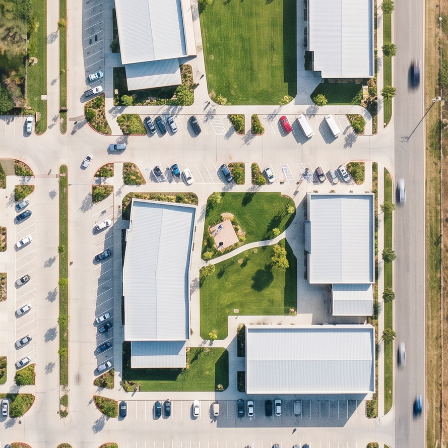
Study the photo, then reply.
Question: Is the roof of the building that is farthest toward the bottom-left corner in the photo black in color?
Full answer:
No, the color of the roof of the building that is farthest toward the bottom-left corner is white.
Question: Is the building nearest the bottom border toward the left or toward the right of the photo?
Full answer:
The building nearest the bottom border sits on the right side.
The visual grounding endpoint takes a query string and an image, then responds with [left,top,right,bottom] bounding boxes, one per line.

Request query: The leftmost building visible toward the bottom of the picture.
[122,196,197,369]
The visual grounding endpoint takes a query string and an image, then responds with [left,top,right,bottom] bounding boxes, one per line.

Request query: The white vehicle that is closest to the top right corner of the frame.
[324,113,341,138]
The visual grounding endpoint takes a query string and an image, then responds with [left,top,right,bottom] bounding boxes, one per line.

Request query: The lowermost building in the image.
[243,321,375,394]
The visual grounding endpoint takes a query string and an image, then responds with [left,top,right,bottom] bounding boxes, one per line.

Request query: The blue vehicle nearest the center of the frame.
[220,164,233,183]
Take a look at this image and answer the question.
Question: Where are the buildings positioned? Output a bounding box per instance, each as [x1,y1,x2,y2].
[122,196,197,369]
[243,321,375,394]
[304,192,375,316]
[115,0,197,91]
[306,0,374,78]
